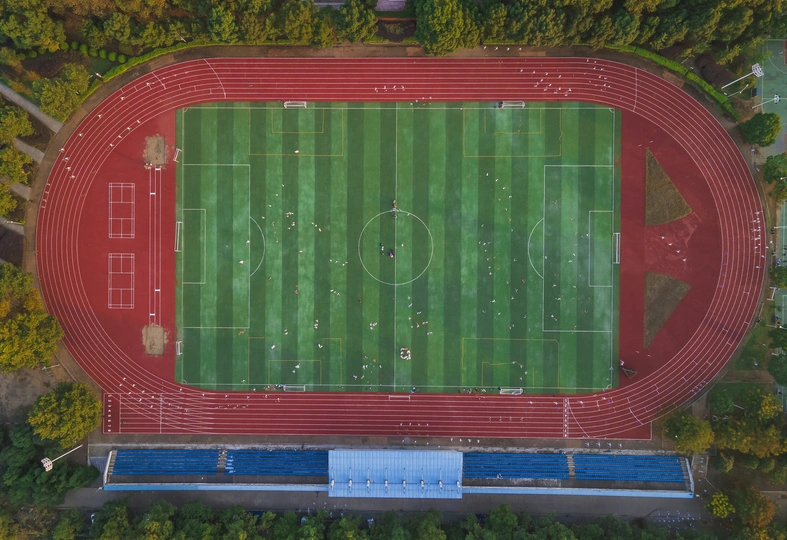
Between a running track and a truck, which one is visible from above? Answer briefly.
running track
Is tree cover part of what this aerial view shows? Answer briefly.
Yes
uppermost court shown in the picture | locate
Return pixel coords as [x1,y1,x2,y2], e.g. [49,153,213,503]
[756,38,787,148]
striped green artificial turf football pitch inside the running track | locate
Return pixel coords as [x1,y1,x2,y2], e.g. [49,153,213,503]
[174,102,622,394]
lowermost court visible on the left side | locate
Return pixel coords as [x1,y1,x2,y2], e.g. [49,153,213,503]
[108,253,134,310]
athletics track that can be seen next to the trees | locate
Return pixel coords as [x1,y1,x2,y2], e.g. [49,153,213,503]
[35,57,767,439]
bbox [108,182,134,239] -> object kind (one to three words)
sports court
